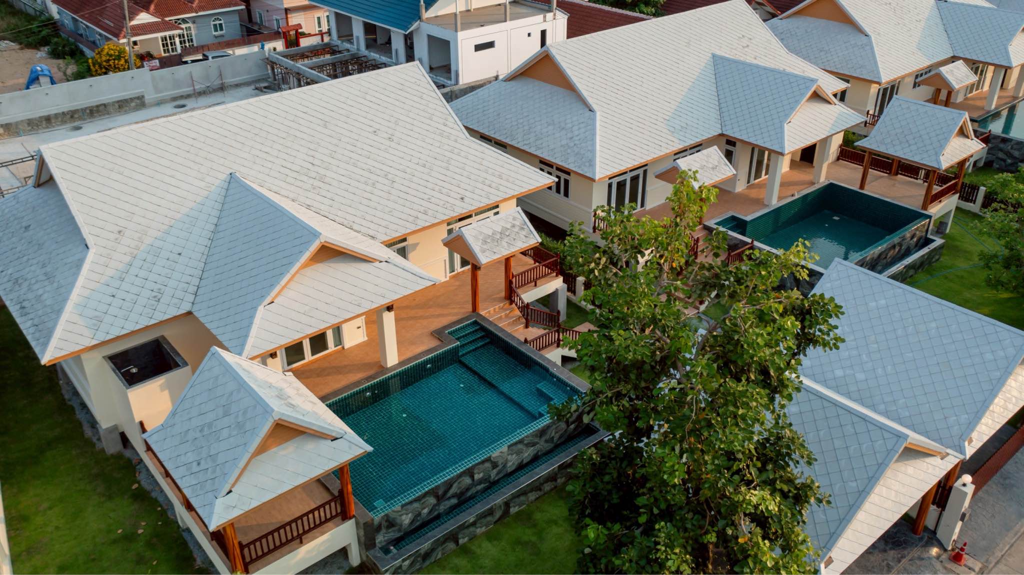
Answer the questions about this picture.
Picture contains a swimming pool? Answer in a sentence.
Yes, there's a swimming pool here.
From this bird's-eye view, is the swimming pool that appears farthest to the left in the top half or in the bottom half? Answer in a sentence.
The bottom half of the photo is where the swimming pool that appears farthest to the left is.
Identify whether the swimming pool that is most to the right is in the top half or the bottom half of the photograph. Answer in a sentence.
Seen from above, the swimming pool that is most to the right lies in the top half of the view.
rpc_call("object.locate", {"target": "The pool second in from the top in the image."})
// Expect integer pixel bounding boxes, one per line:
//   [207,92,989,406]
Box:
[703,179,949,306]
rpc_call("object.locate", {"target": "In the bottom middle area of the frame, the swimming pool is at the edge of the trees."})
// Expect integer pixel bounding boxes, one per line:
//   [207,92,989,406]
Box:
[319,314,610,575]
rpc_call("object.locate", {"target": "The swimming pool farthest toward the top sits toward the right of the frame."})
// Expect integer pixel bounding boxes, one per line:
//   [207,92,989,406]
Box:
[978,98,1024,175]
